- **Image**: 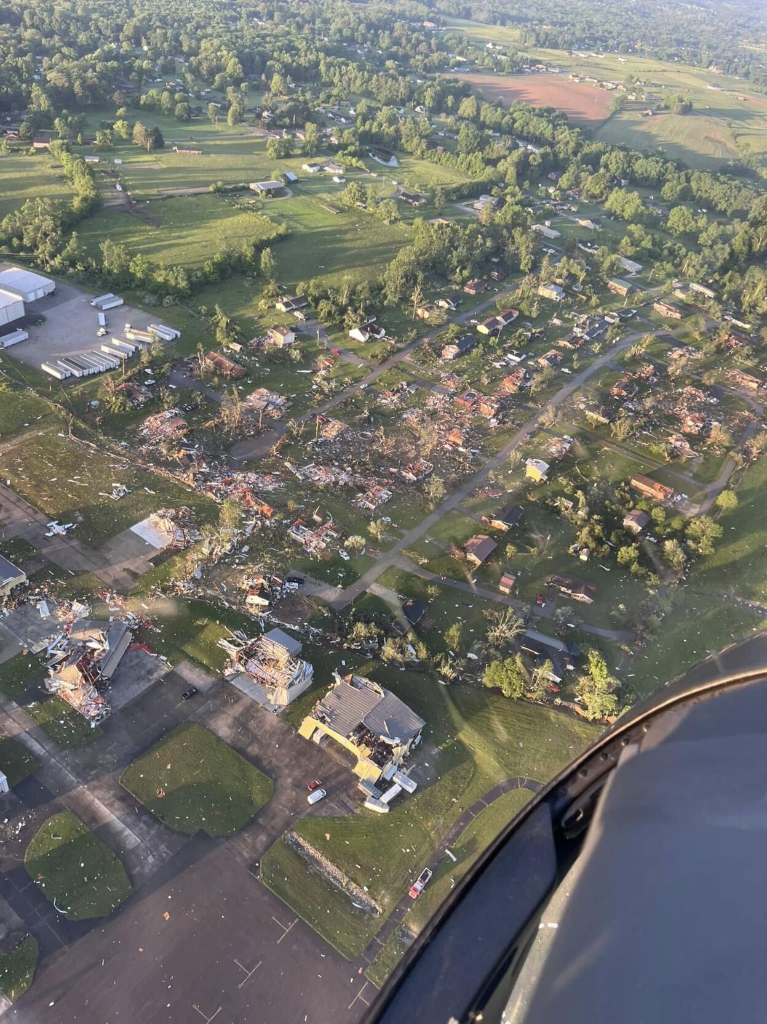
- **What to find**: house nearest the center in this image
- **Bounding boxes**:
[355,484,400,510]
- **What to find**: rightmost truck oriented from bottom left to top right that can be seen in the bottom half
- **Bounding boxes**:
[411,860,437,895]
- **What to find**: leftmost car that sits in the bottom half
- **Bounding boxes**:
[179,684,200,698]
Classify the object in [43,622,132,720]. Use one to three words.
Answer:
hangar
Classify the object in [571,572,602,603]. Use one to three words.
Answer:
building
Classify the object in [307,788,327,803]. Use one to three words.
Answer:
car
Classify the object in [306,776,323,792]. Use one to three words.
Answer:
car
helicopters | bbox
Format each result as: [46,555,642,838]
[358,632,767,1024]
